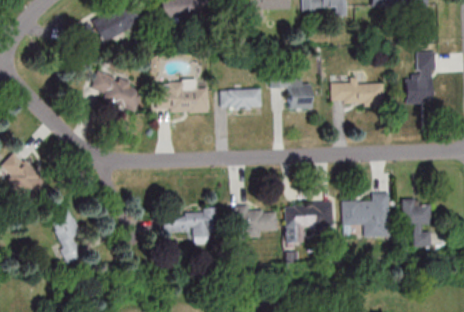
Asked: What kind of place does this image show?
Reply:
residential area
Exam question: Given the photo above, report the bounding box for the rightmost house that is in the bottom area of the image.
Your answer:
[398,197,431,248]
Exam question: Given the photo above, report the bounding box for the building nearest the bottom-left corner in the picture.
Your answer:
[53,212,80,264]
